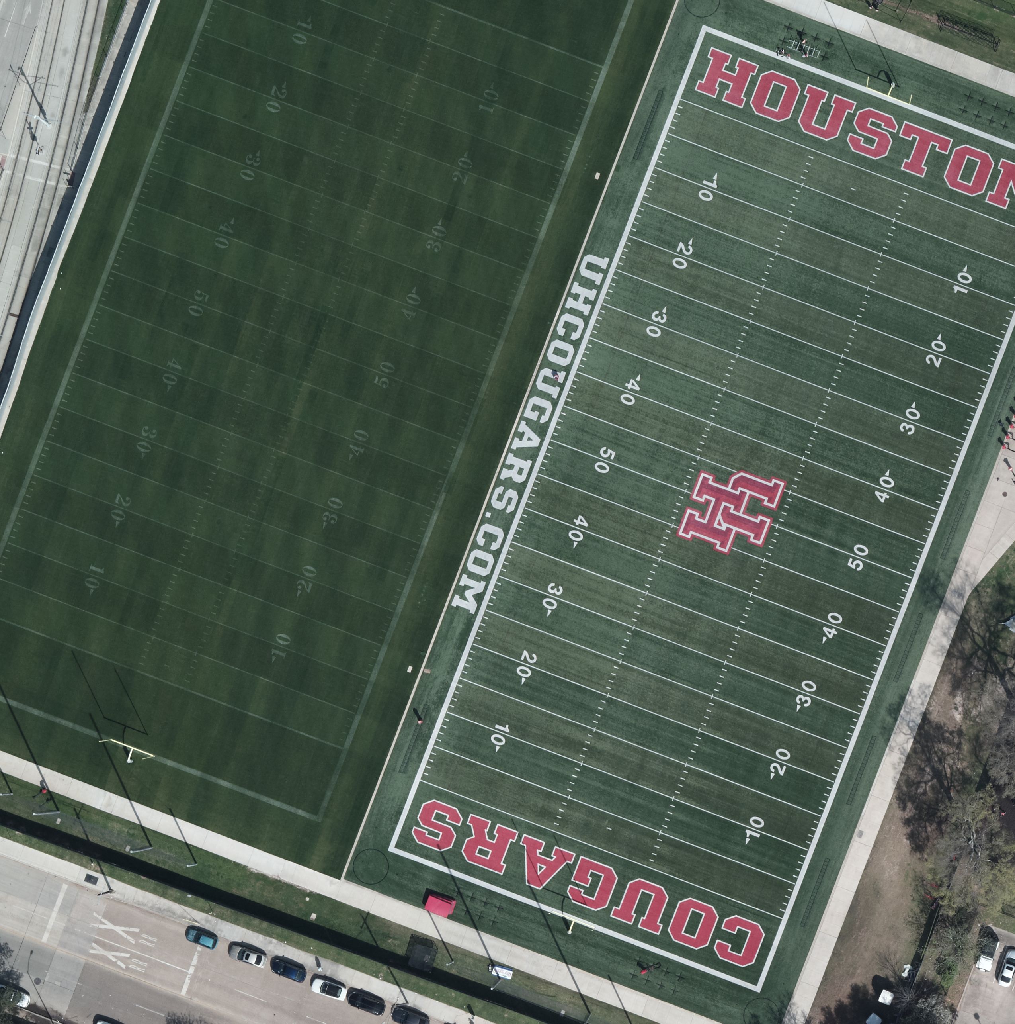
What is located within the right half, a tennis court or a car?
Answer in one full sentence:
It is a car that can be seen within the right half.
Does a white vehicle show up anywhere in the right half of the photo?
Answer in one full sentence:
Yes, a white vehicle can be seen in the right half of the photo.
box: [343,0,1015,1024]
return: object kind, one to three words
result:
sports field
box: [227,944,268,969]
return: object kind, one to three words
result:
car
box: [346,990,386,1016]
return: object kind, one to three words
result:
car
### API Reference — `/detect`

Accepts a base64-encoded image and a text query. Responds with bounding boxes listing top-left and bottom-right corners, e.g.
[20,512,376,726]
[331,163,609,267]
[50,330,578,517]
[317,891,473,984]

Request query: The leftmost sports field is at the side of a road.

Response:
[0,0,676,879]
